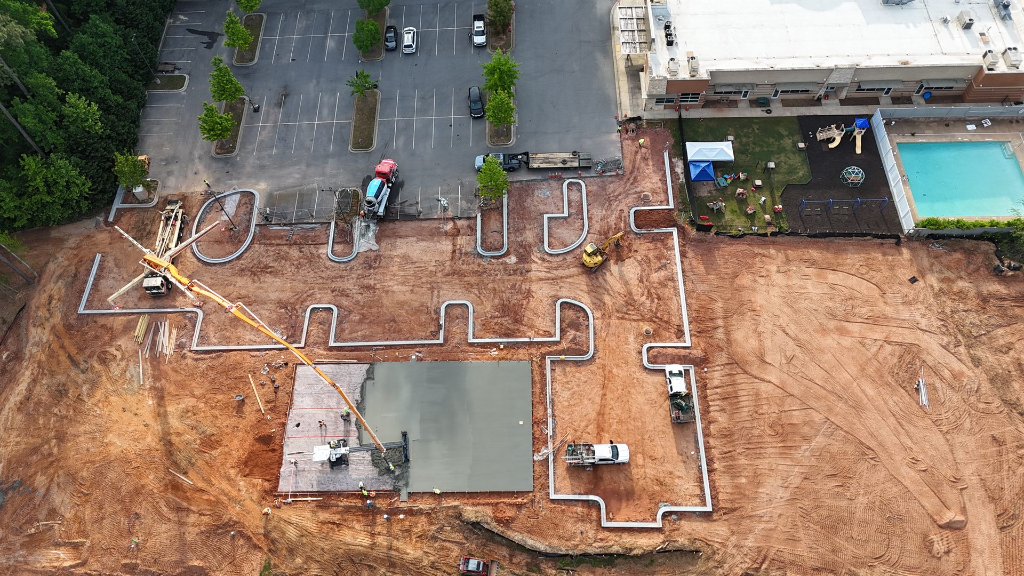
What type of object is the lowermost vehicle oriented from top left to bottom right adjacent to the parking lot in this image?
truck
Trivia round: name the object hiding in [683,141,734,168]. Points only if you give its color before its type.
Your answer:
white tent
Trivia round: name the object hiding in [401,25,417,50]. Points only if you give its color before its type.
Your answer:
white car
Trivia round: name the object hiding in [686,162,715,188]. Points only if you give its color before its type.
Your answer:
blue tent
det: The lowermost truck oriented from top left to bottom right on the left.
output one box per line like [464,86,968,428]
[108,199,390,463]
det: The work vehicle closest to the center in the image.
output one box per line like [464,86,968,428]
[581,231,620,270]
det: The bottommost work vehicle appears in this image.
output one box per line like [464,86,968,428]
[458,556,501,576]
